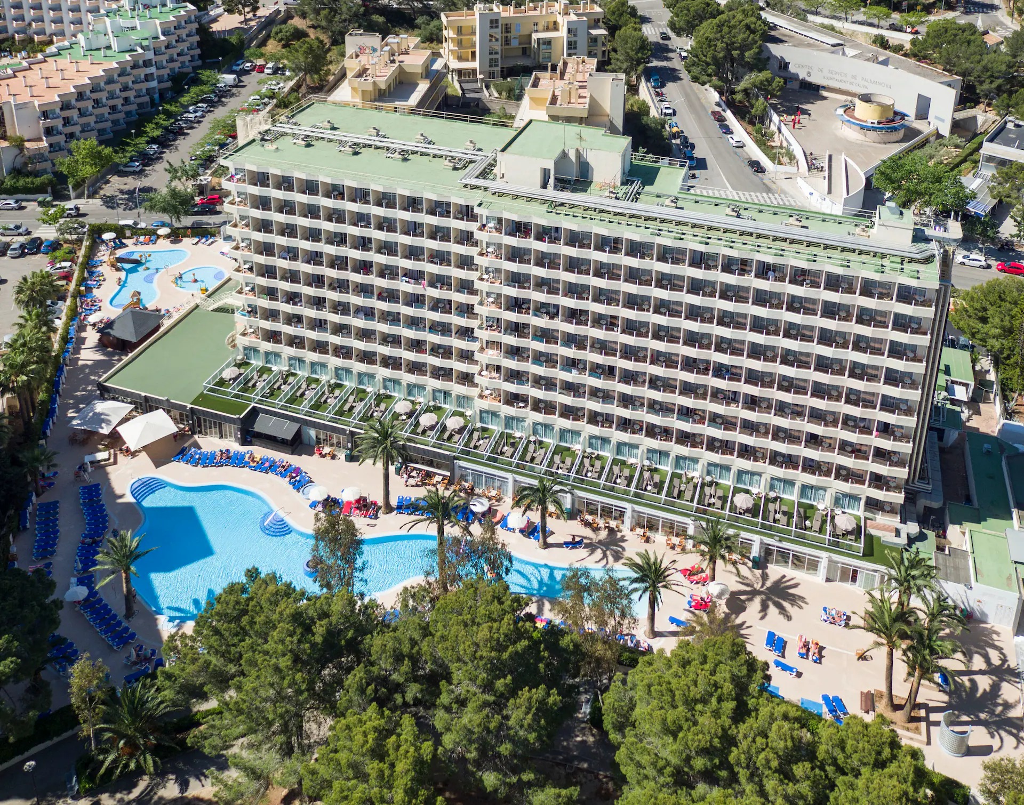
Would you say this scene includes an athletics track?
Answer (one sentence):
No, the frame has no athletics track in it.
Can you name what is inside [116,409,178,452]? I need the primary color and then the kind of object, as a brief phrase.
white umbrella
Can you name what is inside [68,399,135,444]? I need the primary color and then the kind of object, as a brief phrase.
white umbrella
